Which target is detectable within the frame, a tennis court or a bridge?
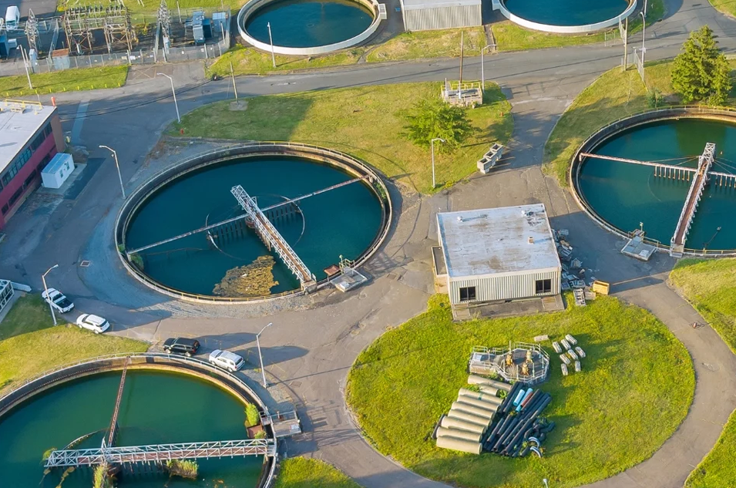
bridge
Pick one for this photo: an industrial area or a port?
industrial area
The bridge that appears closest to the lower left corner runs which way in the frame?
horizontally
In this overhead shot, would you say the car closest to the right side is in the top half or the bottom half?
bottom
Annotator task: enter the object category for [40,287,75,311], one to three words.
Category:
truck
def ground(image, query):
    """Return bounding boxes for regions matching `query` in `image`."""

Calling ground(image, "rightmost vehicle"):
[205,349,245,371]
